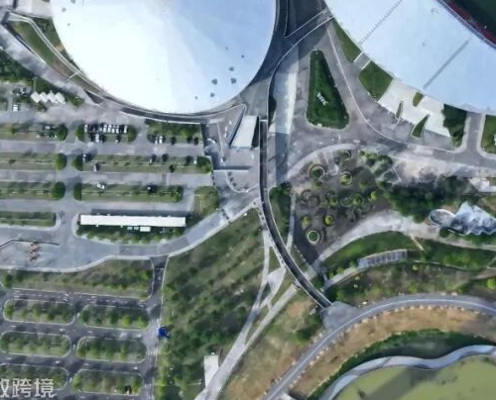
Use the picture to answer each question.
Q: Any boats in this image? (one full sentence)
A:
No, the picture doesn't show any boat.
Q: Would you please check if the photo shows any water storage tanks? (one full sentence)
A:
No, there isn't any water storage tank down there.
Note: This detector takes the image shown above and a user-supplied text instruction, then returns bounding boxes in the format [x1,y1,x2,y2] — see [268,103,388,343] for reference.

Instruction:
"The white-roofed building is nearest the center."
[230,116,258,148]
